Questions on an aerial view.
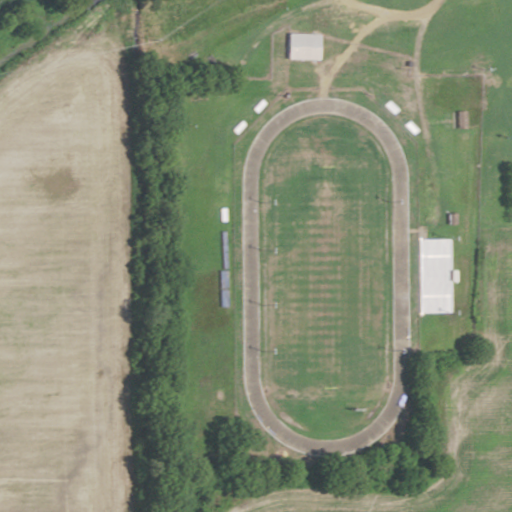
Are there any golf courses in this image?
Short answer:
No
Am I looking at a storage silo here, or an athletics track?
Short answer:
athletics track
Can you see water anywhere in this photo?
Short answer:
No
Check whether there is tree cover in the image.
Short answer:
Yes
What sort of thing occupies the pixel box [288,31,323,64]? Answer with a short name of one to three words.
barn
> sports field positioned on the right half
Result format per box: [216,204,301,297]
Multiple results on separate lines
[279,167,376,388]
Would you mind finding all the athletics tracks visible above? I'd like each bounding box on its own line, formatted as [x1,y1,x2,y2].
[243,98,409,456]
